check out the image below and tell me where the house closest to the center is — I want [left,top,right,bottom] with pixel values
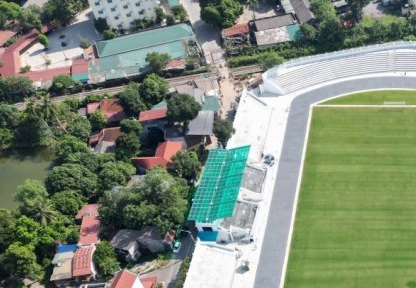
[186,111,216,141]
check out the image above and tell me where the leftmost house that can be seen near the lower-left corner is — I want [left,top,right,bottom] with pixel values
[51,244,77,286]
